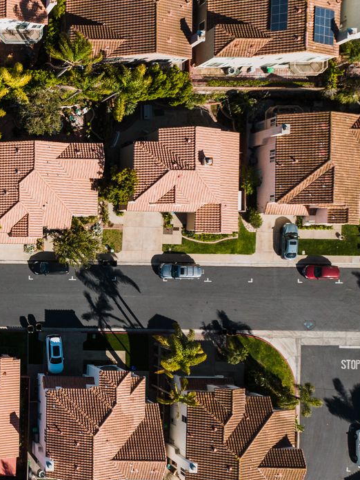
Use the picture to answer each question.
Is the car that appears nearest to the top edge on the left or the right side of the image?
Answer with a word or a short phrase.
right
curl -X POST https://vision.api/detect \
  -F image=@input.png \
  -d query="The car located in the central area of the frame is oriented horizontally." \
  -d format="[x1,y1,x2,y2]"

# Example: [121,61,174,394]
[160,262,202,280]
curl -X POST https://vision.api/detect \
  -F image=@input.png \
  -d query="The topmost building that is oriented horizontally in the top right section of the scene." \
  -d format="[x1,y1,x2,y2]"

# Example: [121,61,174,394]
[193,0,358,80]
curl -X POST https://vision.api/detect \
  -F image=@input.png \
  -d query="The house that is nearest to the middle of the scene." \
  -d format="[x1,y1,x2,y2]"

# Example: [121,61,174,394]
[117,125,240,234]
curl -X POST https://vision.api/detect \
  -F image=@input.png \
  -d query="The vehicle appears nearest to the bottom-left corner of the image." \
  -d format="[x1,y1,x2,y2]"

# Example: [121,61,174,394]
[46,334,66,374]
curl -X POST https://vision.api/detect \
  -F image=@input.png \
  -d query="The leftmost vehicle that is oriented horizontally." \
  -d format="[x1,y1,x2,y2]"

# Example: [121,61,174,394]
[29,259,69,276]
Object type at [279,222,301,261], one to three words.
car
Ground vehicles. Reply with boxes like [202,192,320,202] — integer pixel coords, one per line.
[303,264,343,282]
[160,262,202,280]
[29,259,69,276]
[279,222,301,261]
[46,334,66,374]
